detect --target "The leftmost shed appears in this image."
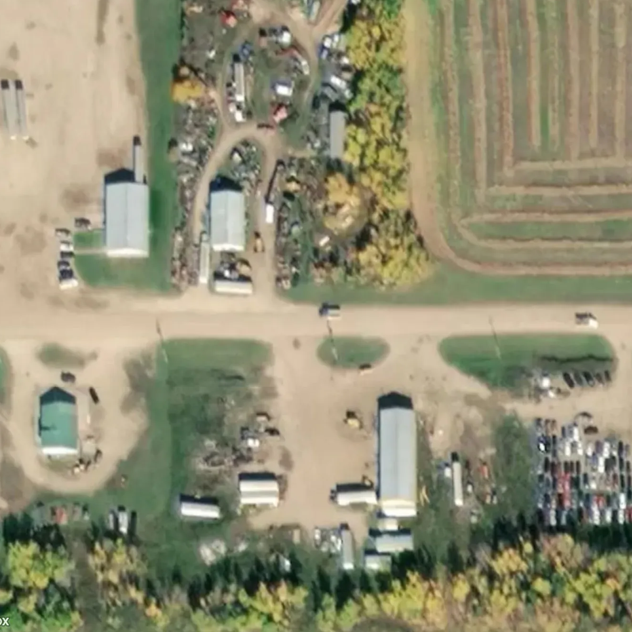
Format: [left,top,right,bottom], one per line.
[39,400,80,453]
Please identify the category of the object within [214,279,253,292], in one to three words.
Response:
building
